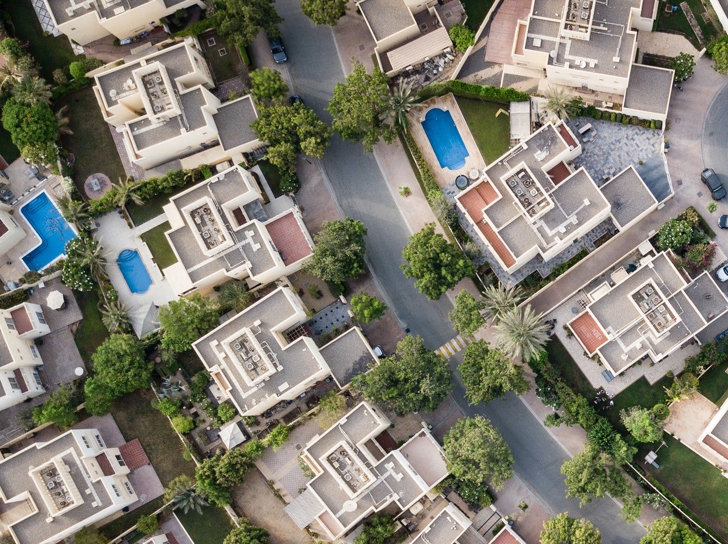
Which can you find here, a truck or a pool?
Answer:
pool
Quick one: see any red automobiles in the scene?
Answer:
No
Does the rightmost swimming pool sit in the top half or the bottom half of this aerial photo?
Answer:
top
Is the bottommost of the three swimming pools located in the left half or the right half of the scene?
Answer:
left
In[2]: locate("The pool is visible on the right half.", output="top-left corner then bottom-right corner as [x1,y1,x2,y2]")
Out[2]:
[417,104,472,174]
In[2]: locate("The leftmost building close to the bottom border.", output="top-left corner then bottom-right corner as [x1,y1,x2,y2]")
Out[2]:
[0,429,139,544]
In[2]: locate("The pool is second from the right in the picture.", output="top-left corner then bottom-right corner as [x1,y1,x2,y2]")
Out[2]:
[111,243,158,300]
